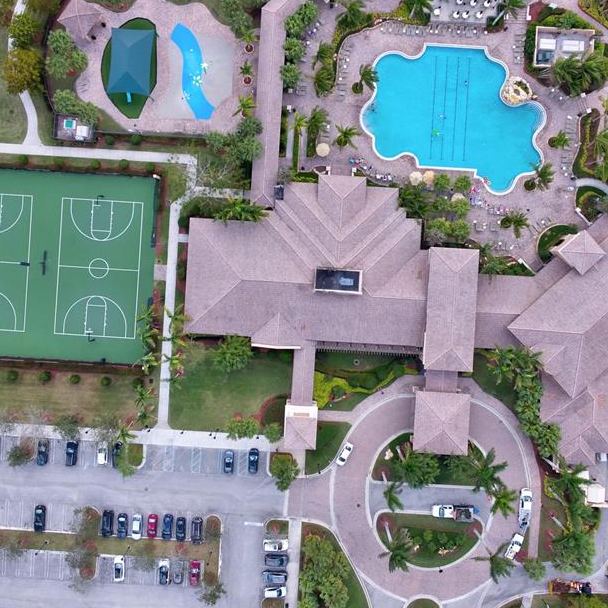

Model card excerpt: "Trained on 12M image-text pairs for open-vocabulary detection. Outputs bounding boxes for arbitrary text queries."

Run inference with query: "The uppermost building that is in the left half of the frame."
[57,0,102,41]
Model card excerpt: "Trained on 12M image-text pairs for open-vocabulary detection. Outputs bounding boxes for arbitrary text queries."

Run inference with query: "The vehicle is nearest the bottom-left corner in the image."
[31,506,44,532]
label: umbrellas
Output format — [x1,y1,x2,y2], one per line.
[409,172,422,185]
[422,172,435,184]
[451,191,464,204]
[316,143,330,157]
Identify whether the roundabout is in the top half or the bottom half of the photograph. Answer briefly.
bottom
